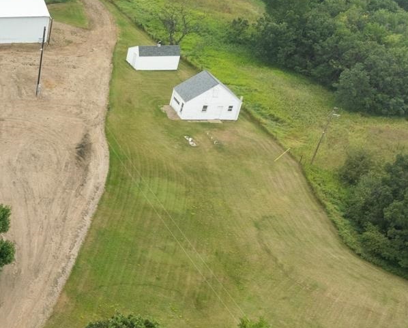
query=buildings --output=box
[166,68,242,120]
[127,38,180,69]
[0,0,54,44]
